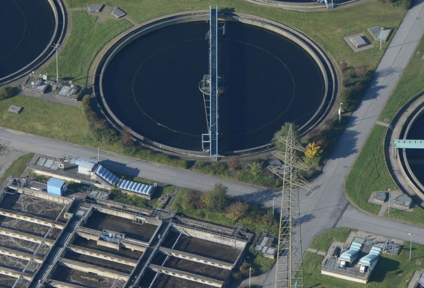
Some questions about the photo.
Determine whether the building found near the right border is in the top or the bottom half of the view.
bottom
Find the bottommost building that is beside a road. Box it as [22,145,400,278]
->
[320,234,415,285]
